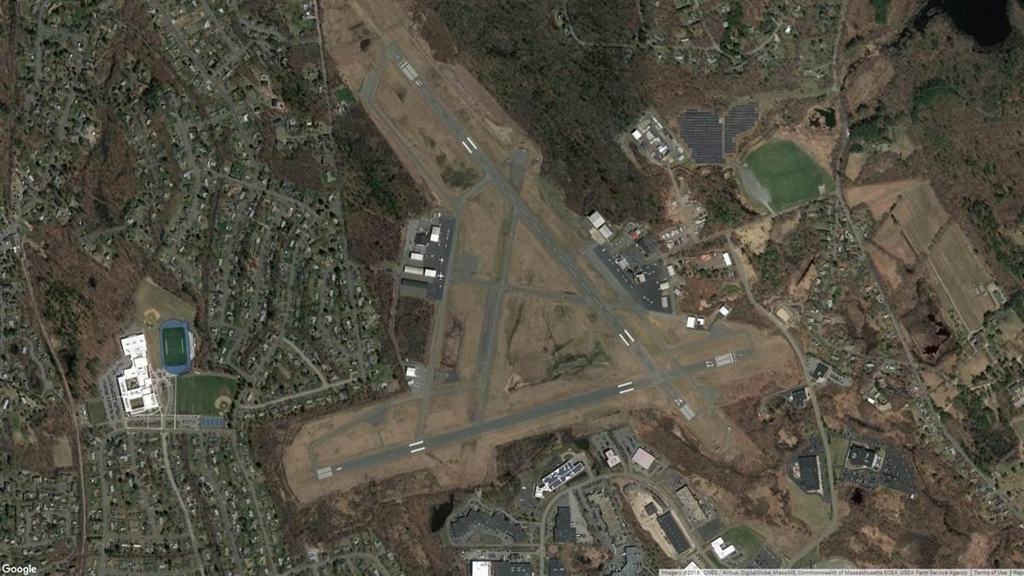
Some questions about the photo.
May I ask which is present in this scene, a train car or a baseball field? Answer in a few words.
baseball field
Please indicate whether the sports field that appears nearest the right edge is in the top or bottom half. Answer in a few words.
top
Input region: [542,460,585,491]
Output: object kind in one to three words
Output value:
building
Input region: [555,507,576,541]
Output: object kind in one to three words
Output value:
building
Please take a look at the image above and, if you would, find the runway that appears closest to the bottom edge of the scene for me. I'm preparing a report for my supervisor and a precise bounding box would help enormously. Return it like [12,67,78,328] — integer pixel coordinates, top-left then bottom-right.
[313,346,755,480]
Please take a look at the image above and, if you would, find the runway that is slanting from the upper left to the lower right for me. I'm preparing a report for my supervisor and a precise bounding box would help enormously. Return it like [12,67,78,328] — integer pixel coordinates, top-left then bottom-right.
[385,41,698,423]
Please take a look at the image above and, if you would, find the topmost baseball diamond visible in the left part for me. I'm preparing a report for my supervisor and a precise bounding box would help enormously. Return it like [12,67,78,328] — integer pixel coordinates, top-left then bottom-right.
[136,278,196,328]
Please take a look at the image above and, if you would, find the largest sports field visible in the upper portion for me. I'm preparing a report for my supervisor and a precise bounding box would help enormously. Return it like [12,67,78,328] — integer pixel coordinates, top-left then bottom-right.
[739,140,834,212]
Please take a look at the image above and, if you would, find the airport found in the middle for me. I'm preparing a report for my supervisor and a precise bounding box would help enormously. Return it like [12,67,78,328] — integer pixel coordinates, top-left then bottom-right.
[307,41,755,480]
